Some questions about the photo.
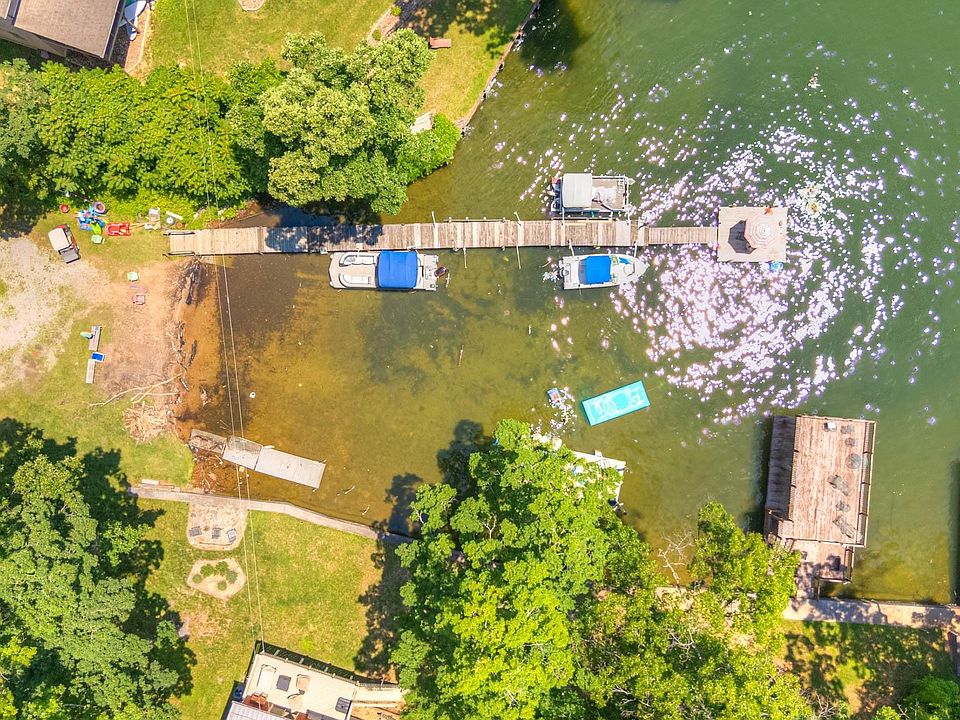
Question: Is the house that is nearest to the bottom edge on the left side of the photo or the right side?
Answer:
left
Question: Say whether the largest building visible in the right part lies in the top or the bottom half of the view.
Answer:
bottom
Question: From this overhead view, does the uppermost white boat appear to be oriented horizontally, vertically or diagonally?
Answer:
horizontally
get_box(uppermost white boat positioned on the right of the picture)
[546,173,640,217]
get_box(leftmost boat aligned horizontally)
[329,249,448,292]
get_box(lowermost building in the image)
[225,646,411,720]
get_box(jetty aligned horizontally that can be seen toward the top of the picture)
[161,205,787,266]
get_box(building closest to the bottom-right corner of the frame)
[751,412,878,566]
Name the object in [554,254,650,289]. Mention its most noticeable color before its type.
white boat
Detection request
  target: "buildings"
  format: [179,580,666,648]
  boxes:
[751,412,878,566]
[0,0,123,86]
[225,646,411,720]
